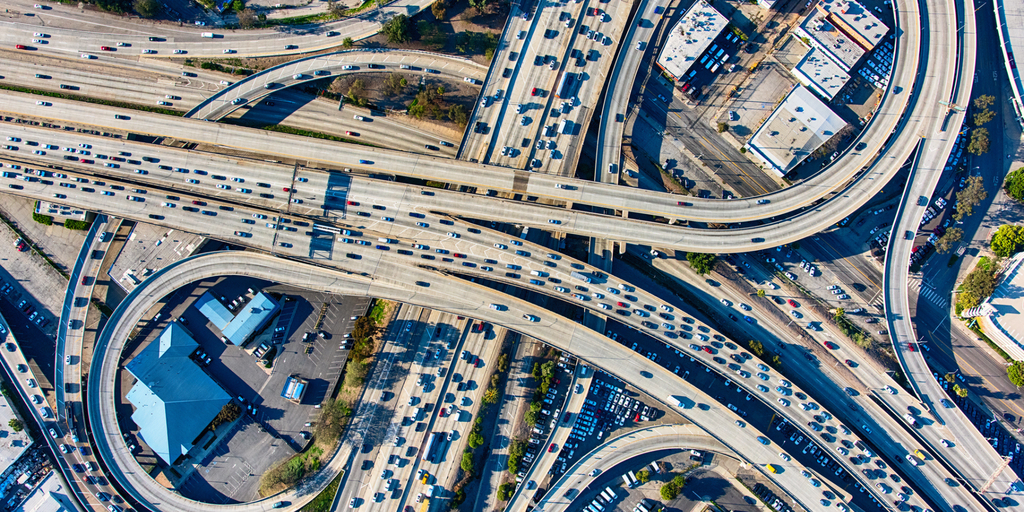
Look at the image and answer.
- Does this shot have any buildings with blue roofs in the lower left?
Yes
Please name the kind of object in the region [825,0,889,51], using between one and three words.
building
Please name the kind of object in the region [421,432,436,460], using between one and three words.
vehicle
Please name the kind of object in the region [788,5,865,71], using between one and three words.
building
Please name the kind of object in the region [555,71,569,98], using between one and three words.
vehicle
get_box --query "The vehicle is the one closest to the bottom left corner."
[13,471,31,485]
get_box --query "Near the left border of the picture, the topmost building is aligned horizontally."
[36,200,97,222]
